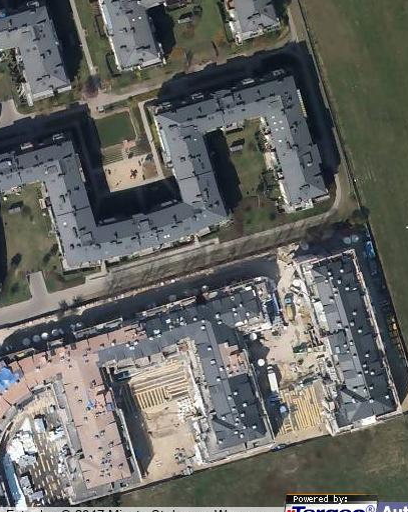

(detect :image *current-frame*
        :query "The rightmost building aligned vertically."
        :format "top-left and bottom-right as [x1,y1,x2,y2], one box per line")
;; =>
[296,252,402,437]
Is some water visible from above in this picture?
No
